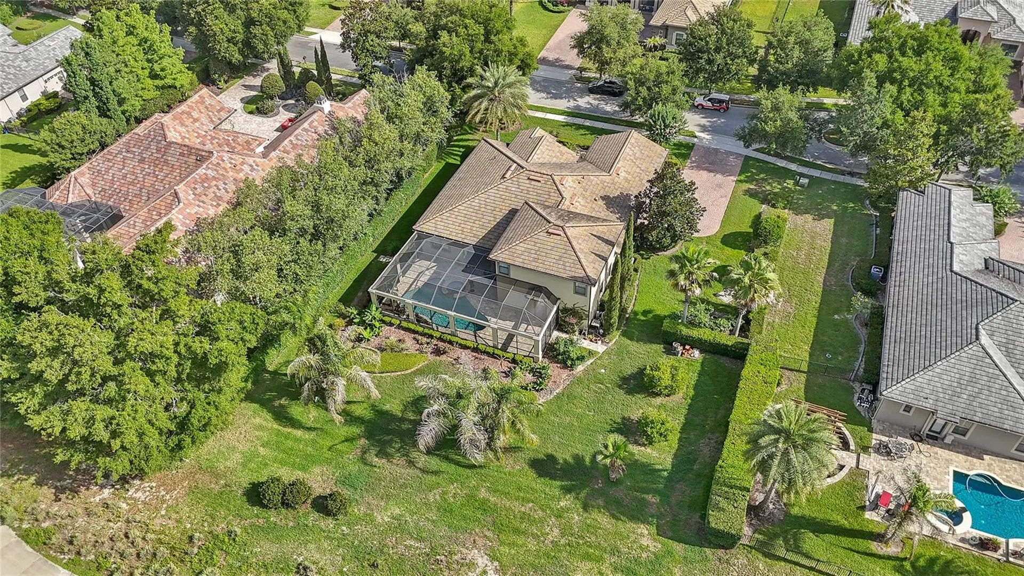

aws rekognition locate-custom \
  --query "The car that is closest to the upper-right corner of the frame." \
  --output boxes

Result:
[695,92,732,112]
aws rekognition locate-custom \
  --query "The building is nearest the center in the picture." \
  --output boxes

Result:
[412,126,670,328]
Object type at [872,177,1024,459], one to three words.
house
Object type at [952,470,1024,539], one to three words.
swimming pool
